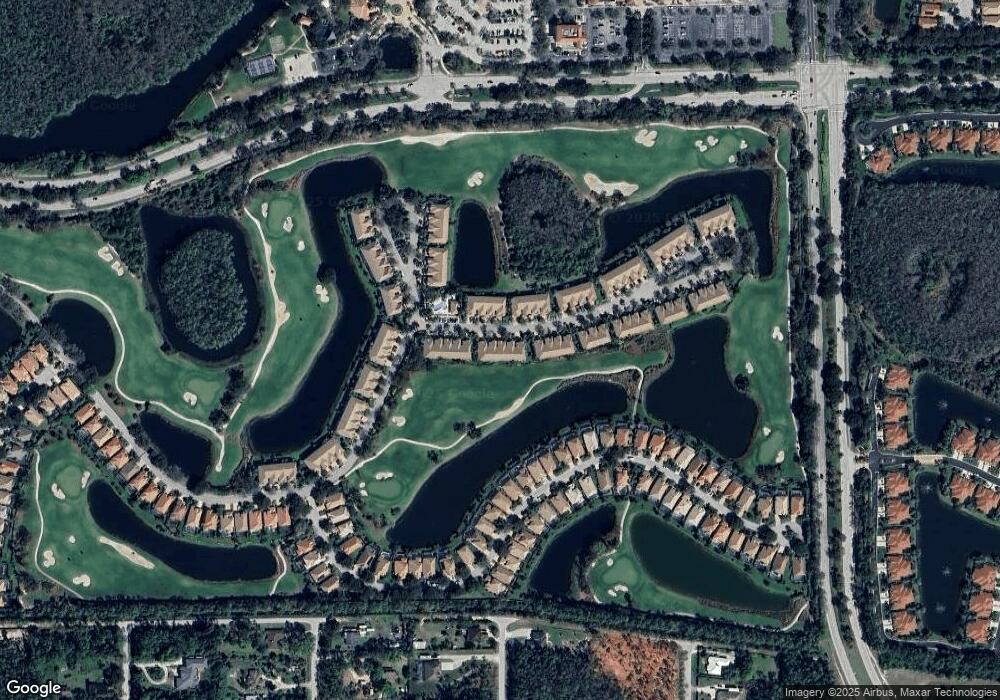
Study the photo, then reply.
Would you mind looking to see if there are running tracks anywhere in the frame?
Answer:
No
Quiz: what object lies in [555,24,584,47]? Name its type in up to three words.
building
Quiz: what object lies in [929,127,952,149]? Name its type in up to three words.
house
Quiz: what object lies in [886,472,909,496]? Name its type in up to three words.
house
